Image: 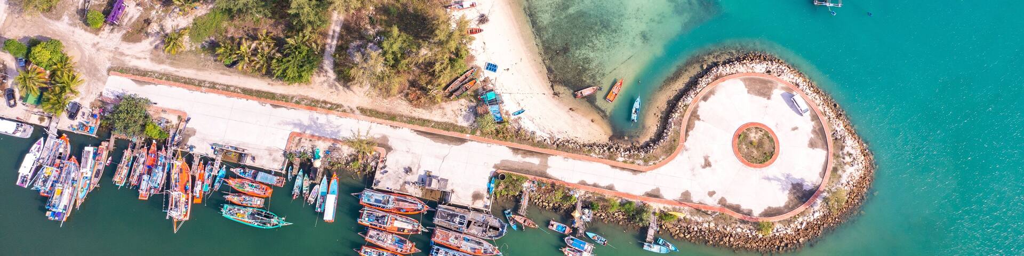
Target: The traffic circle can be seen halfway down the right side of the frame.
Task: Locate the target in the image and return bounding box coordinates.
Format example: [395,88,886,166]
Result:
[732,122,779,168]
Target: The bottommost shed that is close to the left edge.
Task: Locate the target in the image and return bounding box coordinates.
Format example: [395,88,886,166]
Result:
[14,88,44,106]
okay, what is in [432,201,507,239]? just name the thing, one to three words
ship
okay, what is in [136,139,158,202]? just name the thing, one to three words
boat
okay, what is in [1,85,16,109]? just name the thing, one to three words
vehicle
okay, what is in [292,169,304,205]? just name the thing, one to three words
boat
